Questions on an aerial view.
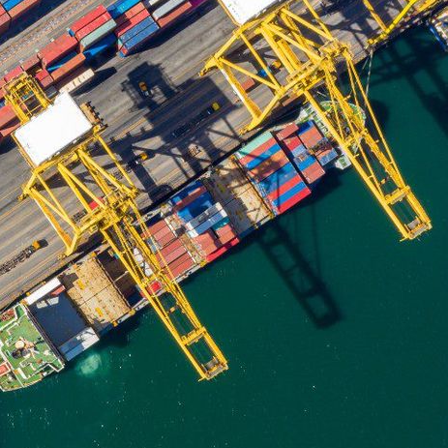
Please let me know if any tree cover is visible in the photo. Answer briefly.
No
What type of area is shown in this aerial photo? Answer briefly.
port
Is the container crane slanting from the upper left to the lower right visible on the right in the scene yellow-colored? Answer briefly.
Yes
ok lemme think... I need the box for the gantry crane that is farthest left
[0,65,231,386]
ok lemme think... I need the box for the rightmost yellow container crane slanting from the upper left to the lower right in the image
[188,0,433,245]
